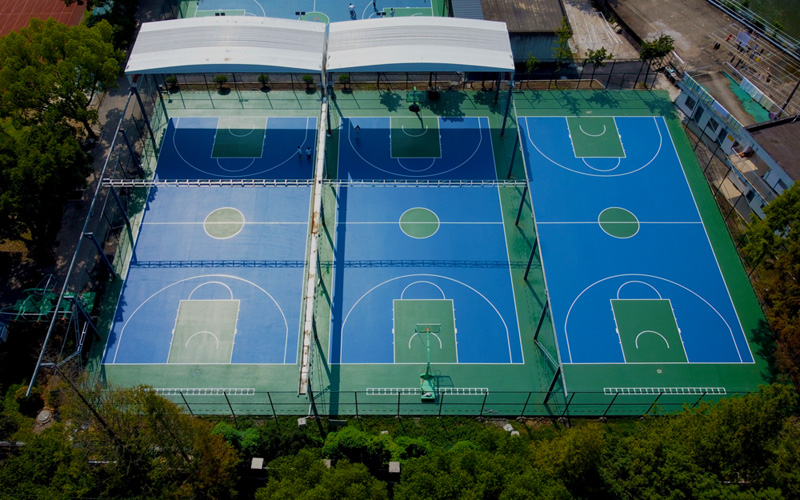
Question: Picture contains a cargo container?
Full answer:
No, no cargo container can be seen from above.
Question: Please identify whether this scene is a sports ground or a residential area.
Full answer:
This image shows a sports ground.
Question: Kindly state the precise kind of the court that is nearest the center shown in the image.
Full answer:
It looks like the court that is nearest the center is a basketball court.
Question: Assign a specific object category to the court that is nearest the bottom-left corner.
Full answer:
It turns out the court that is nearest the bottom-left corner is a basketball court.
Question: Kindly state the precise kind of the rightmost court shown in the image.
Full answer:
It looks like the rightmost court is a basketball court.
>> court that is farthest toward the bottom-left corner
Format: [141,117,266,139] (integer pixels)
[101,116,318,395]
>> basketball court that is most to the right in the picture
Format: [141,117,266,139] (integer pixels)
[518,116,754,394]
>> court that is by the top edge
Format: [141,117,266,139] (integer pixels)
[195,0,432,26]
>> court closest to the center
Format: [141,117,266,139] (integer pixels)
[328,116,523,395]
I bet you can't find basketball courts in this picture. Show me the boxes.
[101,116,318,395]
[518,116,754,394]
[328,116,523,395]
[195,0,432,26]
